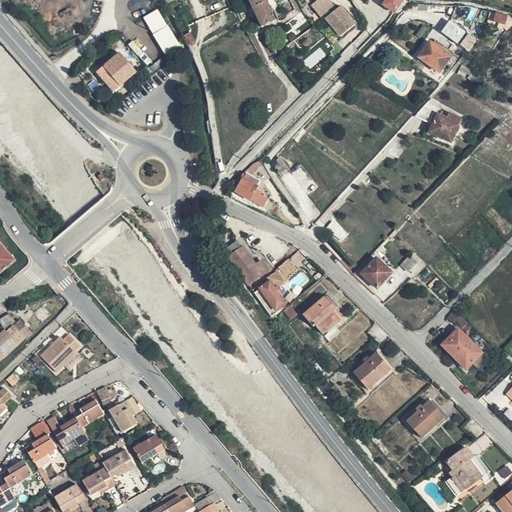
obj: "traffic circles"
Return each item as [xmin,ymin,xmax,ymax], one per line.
[134,154,172,191]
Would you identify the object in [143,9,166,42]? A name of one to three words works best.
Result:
building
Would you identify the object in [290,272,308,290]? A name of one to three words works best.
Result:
swimming pool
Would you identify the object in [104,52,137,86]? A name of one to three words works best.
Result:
house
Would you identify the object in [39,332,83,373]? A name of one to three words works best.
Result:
house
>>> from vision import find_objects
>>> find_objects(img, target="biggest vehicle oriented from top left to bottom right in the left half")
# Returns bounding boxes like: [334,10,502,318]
[129,40,150,64]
